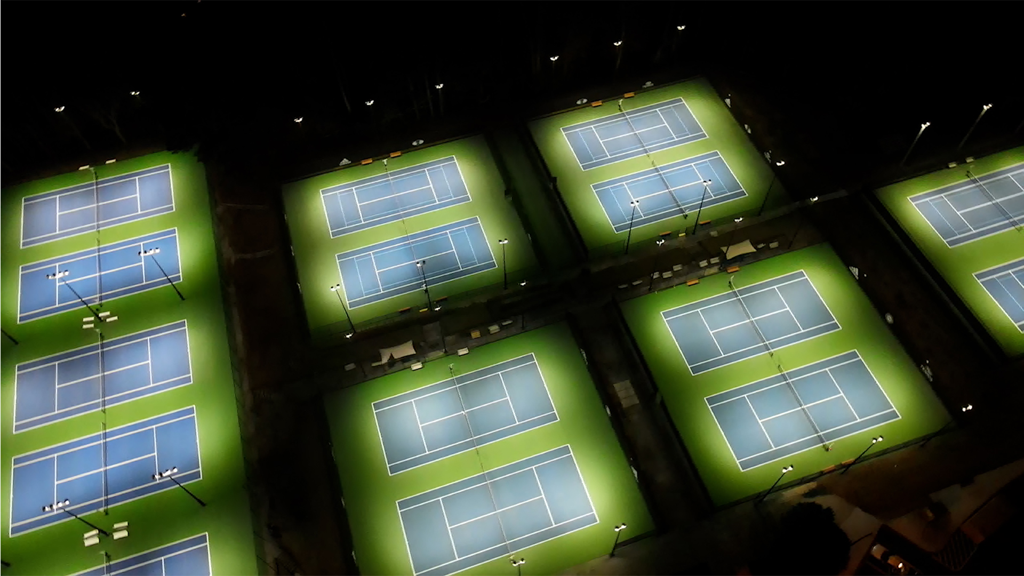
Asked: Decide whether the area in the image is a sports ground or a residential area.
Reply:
sports ground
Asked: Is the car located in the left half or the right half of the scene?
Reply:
right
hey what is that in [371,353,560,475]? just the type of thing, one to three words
tennis court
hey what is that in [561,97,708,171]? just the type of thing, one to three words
tennis court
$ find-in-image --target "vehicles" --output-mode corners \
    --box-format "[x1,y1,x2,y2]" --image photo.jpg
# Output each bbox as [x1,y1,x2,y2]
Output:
[872,543,913,576]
